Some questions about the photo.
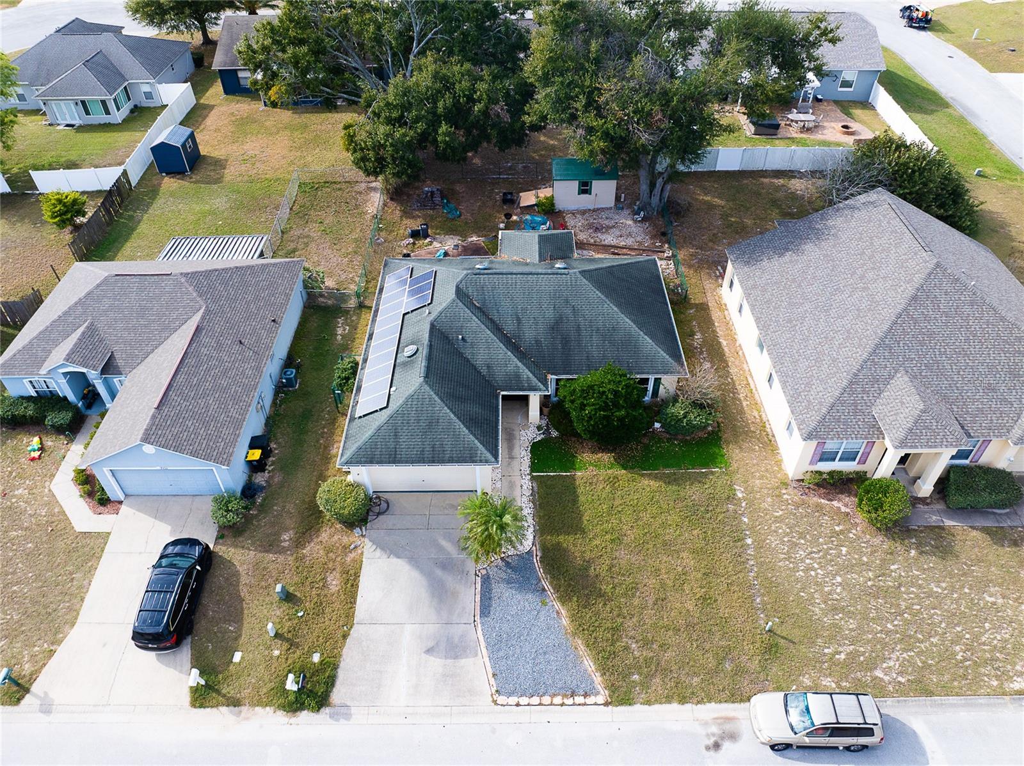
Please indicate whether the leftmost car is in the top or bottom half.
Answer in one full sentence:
The leftmost car sits in the bottom half of the picture.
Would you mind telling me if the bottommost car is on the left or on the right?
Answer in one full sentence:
You can find the bottommost car on the right side of the picture.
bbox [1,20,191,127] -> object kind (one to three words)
house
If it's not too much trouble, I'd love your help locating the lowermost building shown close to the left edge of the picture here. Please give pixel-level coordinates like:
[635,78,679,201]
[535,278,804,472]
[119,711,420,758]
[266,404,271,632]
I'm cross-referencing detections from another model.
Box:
[0,258,305,501]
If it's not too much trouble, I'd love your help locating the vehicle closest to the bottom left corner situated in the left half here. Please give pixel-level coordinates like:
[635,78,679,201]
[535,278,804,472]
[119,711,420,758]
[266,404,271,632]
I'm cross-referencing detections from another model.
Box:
[137,541,215,654]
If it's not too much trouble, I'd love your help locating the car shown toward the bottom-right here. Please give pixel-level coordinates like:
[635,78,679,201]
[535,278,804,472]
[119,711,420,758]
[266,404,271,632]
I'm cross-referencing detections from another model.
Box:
[750,690,887,754]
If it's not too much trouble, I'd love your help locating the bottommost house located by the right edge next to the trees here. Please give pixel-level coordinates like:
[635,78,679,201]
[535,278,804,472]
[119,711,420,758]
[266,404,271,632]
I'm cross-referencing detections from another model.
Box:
[726,190,1024,496]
